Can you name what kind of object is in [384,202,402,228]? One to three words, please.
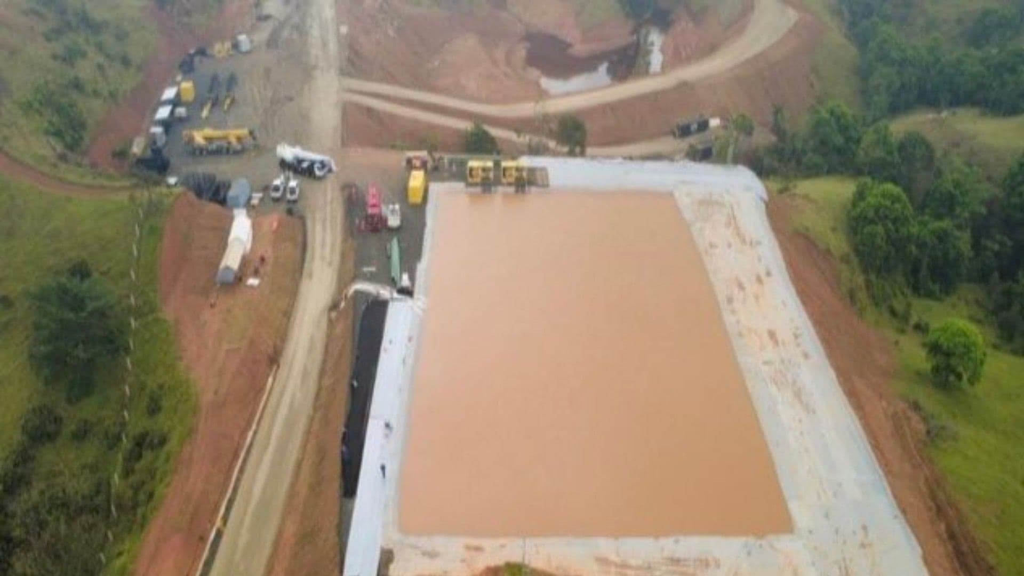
car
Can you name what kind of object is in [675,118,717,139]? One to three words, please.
truck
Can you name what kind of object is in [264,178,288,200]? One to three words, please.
truck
